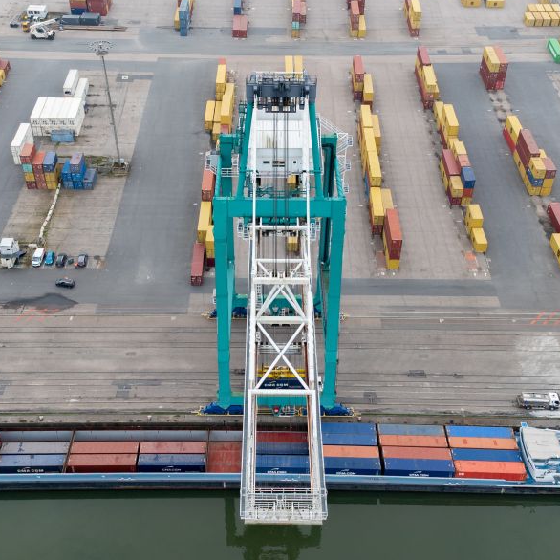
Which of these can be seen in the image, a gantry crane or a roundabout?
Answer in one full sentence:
It is a gantry crane that can be seen here.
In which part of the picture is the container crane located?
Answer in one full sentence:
The container crane sits in the center section of the image.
